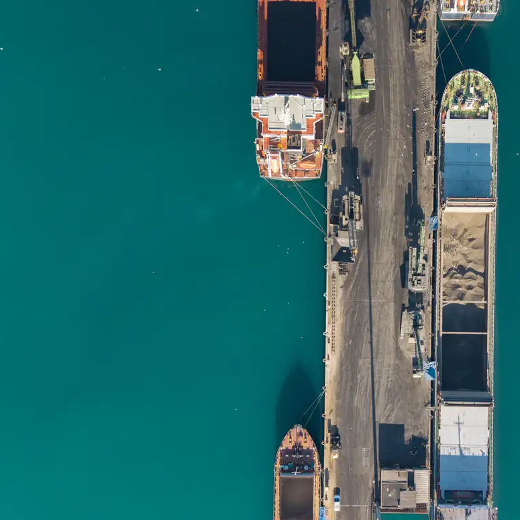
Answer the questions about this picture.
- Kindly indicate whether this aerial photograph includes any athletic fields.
No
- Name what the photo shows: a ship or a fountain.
ship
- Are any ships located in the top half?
Yes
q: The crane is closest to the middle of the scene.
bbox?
[340,192,363,262]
